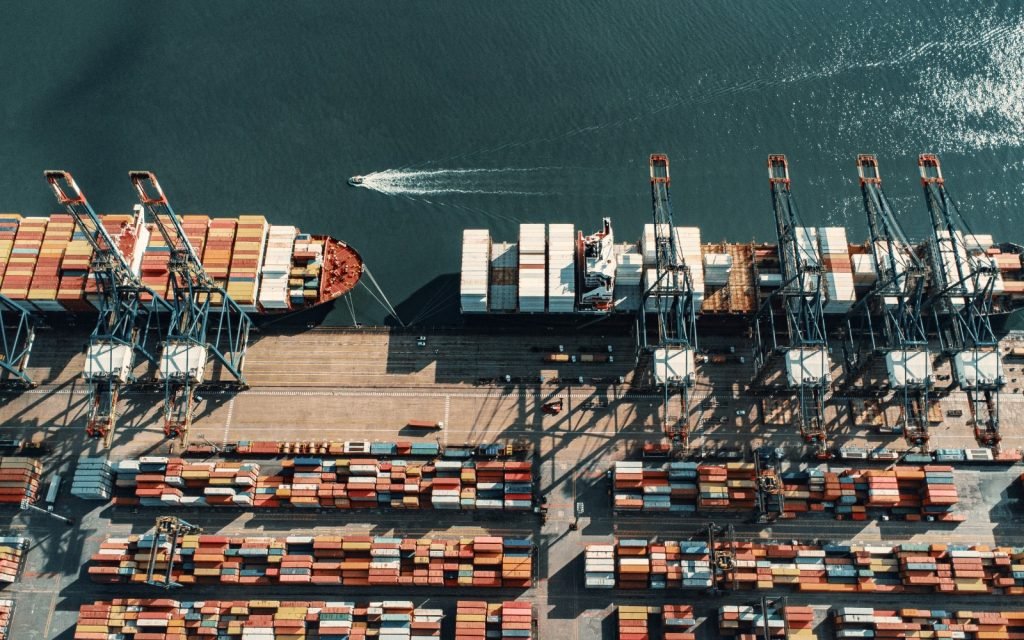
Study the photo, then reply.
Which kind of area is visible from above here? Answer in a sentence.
The area seen from above is a port.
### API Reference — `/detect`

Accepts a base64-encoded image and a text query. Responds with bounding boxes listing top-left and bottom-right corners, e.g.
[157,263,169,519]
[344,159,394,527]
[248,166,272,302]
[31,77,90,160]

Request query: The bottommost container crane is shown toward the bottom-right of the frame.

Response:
[745,597,795,640]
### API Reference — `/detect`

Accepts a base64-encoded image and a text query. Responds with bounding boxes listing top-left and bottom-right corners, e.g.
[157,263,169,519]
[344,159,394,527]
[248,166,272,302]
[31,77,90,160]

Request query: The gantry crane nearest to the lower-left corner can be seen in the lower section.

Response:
[147,520,202,594]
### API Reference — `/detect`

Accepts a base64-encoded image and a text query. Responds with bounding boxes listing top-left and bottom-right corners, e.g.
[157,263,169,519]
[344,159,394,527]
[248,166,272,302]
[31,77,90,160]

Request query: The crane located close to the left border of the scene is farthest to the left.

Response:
[0,290,55,386]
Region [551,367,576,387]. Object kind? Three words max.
vehicle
